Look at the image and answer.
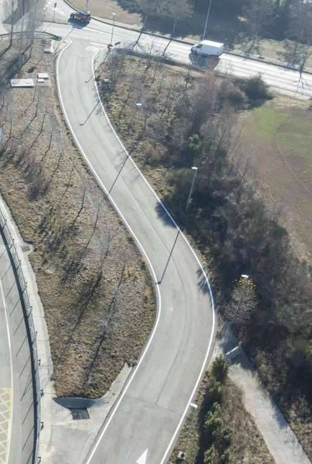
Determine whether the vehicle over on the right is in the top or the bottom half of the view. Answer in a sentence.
The top half of the photo is where the vehicle over on the right is.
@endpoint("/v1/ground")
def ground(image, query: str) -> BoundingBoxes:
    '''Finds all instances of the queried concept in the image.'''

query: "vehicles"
[69,11,92,26]
[191,38,228,59]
